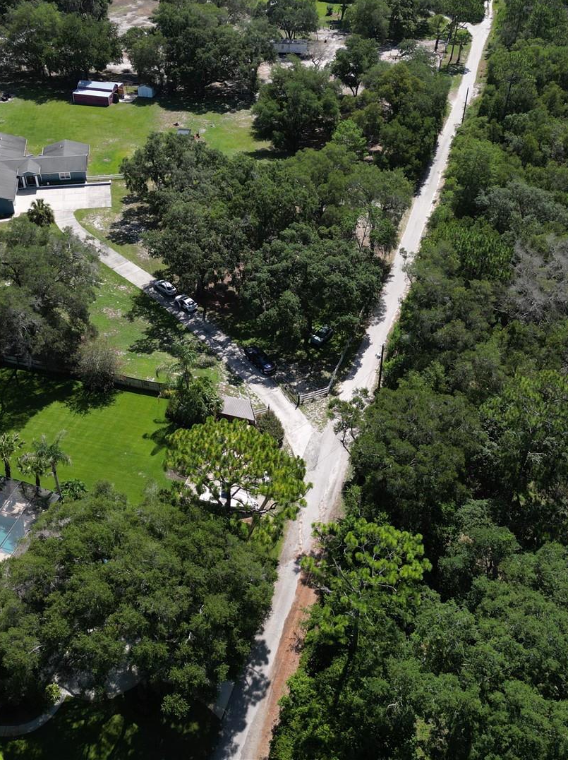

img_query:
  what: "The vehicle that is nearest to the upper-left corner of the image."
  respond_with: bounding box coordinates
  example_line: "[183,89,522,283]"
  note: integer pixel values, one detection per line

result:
[152,277,179,298]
